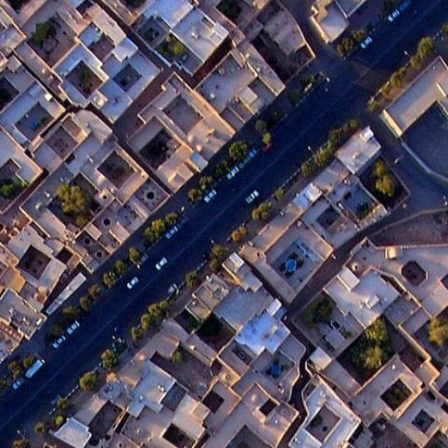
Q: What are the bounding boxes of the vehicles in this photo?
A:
[25,359,47,379]
[398,0,411,11]
[67,322,80,335]
[359,36,372,49]
[246,190,259,203]
[126,276,140,289]
[53,336,66,349]
[204,190,217,202]
[12,377,25,390]
[167,282,180,295]
[260,141,273,154]
[388,9,400,21]
[227,167,239,180]
[237,157,251,169]
[166,226,179,239]
[155,257,168,270]
[247,146,258,158]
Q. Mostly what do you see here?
buildings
